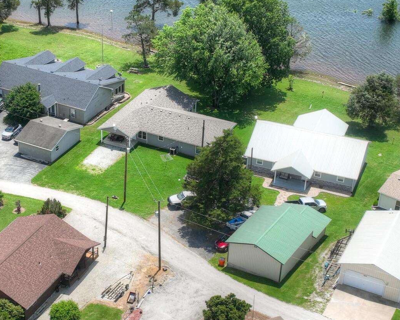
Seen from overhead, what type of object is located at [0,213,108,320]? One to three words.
house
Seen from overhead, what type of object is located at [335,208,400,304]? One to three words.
building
